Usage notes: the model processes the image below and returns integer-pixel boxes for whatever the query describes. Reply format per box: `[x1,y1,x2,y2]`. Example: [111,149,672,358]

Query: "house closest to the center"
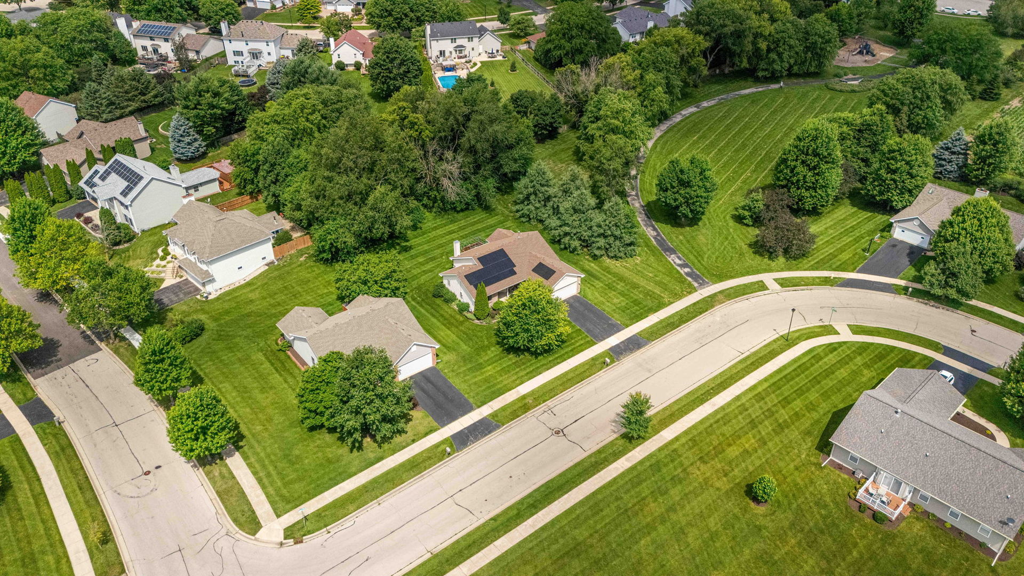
[440,228,586,313]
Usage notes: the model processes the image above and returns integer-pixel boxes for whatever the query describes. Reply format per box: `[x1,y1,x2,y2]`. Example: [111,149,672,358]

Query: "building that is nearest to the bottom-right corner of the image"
[823,367,1024,564]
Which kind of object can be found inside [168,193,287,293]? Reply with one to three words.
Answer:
house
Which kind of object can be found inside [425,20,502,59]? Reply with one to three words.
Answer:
house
